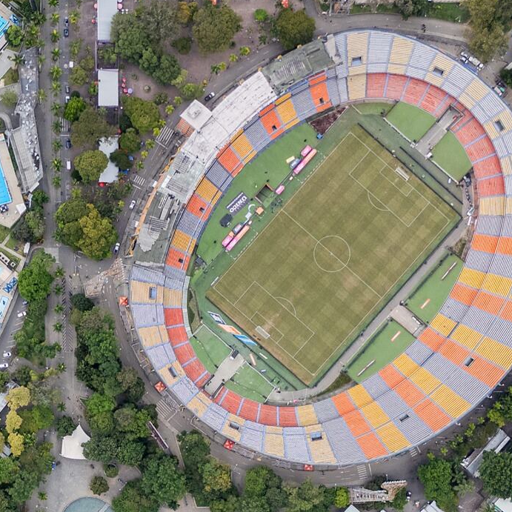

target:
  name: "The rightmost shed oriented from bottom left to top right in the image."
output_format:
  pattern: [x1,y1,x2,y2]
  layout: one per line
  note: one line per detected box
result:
[461,430,510,476]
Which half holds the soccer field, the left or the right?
right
